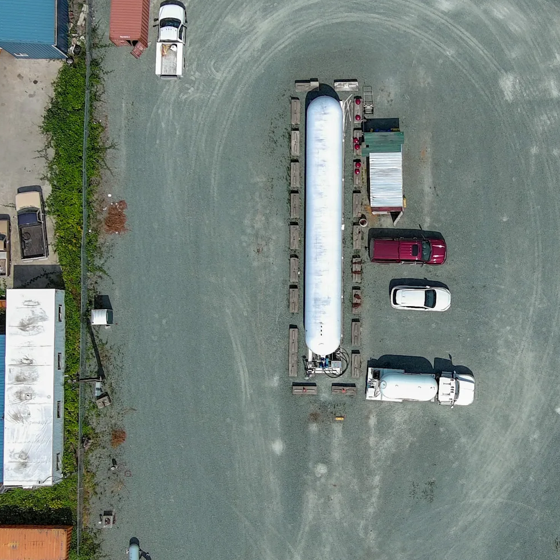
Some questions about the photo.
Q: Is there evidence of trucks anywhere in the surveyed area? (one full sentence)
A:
Yes, a truck is visible in the scene.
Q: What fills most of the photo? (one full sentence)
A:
The bulk of the photo consists of paved ground.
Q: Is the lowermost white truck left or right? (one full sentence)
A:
The lowermost white truck sits on the right side.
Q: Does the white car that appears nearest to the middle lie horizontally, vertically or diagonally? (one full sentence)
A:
Seen from above, the white car that appears nearest to the middle lies horizontally.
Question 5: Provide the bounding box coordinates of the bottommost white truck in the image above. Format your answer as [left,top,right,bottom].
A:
[364,369,478,410]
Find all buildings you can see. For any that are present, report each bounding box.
[3,288,63,489]
[0,0,69,58]
[362,131,403,217]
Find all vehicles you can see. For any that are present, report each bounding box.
[364,227,446,267]
[364,369,478,410]
[150,4,189,83]
[391,283,452,314]
[12,187,49,262]
[0,215,11,278]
